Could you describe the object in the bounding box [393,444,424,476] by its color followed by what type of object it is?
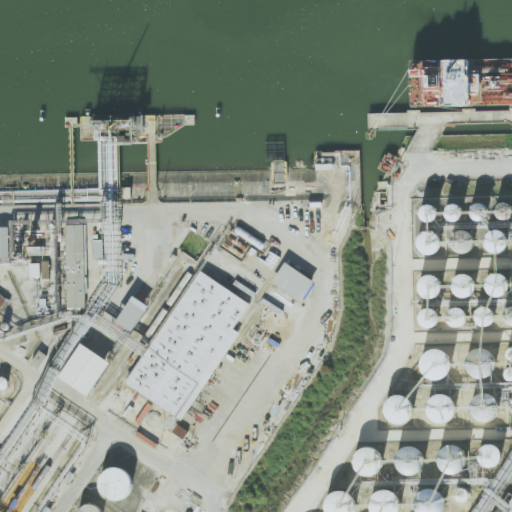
white storage tank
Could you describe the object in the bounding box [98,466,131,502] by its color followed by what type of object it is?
white storage tank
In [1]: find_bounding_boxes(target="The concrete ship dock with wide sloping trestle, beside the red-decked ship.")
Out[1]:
[368,110,512,154]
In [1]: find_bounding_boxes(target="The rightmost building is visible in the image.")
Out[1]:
[370,182,392,209]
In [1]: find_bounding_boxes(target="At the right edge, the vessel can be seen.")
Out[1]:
[408,60,512,108]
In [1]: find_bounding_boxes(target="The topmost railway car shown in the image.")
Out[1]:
[165,272,193,306]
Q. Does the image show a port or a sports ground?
port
